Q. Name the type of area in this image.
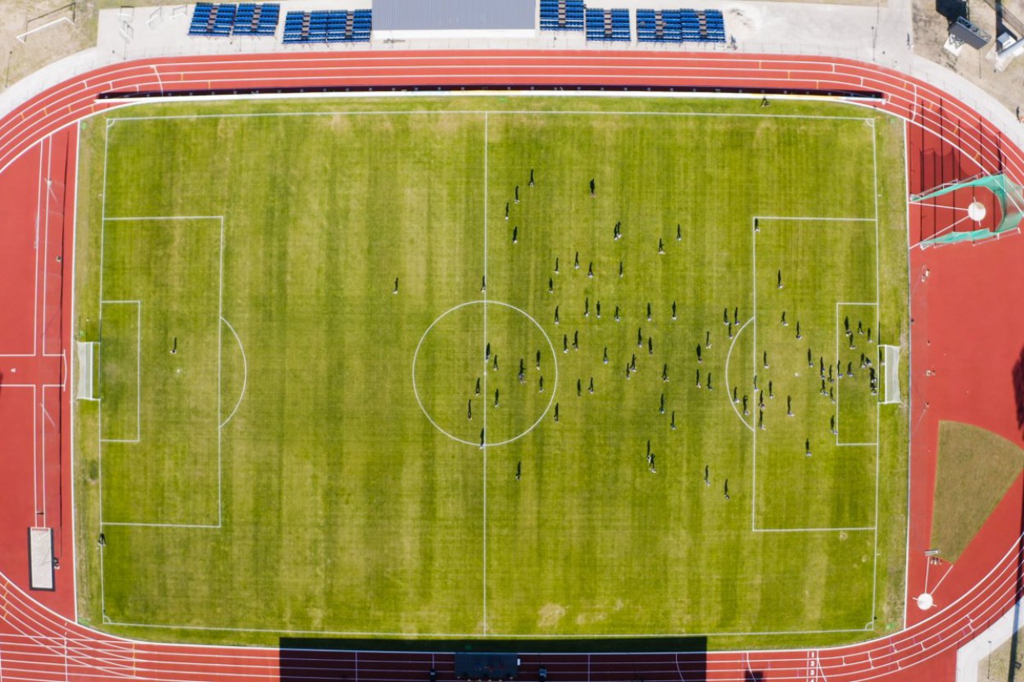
sports ground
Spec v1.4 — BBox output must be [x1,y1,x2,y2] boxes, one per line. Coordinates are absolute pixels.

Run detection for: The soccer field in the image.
[71,95,911,653]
